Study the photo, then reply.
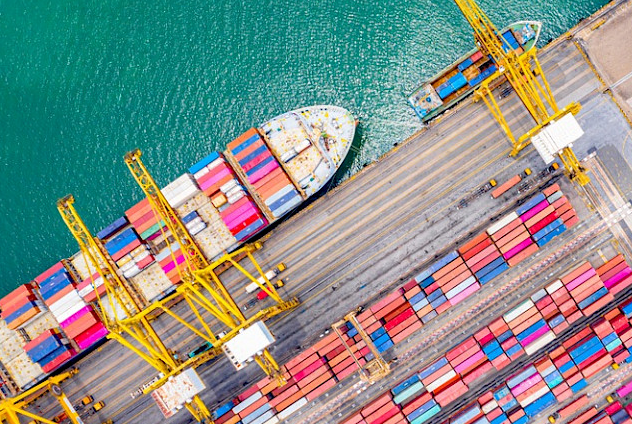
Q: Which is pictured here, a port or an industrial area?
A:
port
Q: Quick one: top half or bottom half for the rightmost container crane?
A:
top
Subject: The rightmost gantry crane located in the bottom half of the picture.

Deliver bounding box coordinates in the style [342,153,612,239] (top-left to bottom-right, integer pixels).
[329,306,394,380]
